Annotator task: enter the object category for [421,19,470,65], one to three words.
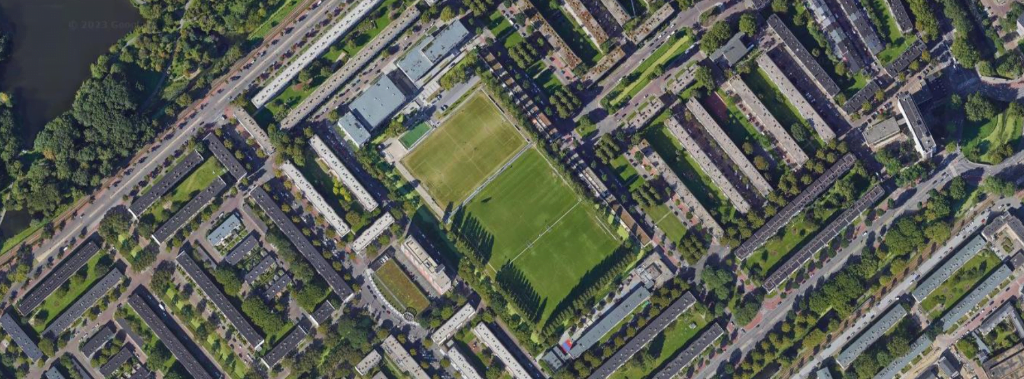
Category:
building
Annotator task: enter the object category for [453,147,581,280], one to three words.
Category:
soccer field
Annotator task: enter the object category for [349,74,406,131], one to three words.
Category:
building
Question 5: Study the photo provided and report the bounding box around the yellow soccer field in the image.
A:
[402,92,527,215]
